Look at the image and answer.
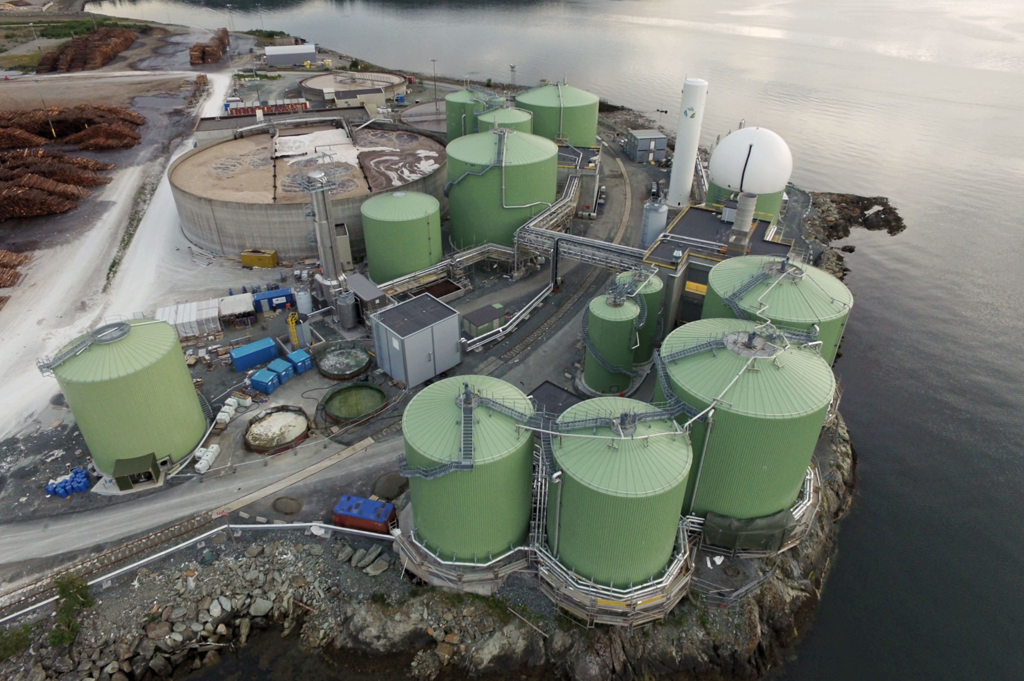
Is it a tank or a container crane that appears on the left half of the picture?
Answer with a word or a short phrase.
tank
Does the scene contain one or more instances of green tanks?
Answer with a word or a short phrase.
Yes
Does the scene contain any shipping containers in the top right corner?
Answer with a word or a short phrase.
No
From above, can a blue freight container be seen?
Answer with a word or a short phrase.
Yes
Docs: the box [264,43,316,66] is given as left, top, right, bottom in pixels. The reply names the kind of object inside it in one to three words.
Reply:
building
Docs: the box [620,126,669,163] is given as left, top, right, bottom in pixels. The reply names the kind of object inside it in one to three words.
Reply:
building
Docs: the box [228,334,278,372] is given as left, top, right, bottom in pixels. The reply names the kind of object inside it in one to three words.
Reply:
shipping container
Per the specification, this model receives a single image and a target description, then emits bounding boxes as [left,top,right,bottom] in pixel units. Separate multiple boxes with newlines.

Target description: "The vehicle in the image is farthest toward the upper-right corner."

[651,153,672,167]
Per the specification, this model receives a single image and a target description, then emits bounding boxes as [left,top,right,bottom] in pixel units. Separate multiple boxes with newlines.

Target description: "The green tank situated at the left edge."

[29,313,209,496]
